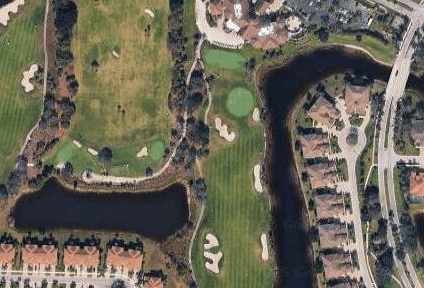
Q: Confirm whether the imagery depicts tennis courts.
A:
No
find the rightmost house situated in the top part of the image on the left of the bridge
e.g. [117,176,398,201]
[347,86,369,112]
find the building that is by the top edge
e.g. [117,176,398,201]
[208,0,306,51]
